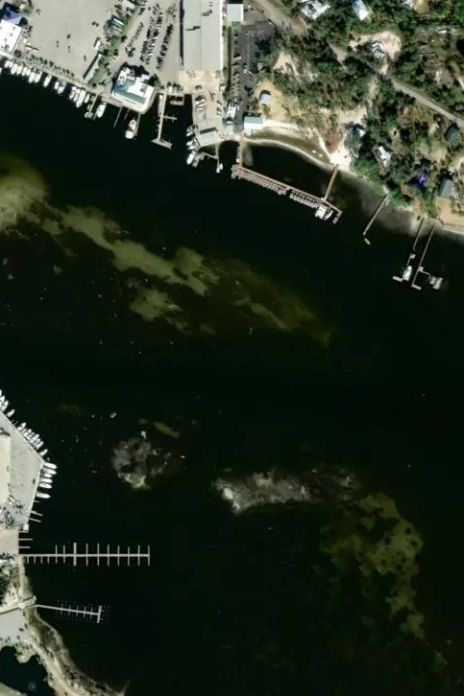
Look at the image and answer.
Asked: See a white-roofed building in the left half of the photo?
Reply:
Yes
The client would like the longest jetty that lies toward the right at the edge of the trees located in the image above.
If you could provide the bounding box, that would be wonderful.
[232,136,342,223]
